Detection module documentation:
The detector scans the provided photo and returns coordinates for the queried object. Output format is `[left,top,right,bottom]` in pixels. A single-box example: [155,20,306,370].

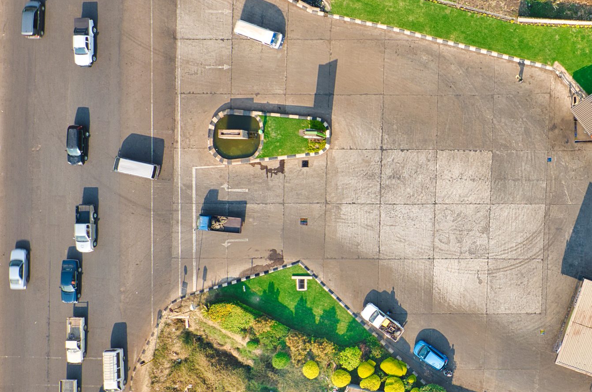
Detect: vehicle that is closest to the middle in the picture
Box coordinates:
[197,210,246,231]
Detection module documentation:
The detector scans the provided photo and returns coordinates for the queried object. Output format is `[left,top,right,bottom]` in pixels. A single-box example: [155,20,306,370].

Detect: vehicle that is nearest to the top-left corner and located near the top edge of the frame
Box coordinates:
[22,0,47,40]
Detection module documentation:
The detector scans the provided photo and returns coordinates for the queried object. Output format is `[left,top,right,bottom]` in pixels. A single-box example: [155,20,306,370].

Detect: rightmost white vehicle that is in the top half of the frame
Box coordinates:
[233,19,284,48]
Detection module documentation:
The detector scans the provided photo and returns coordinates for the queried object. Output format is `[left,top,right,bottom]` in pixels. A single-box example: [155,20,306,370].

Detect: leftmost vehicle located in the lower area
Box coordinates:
[9,249,33,291]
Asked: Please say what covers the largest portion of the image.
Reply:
paved ground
